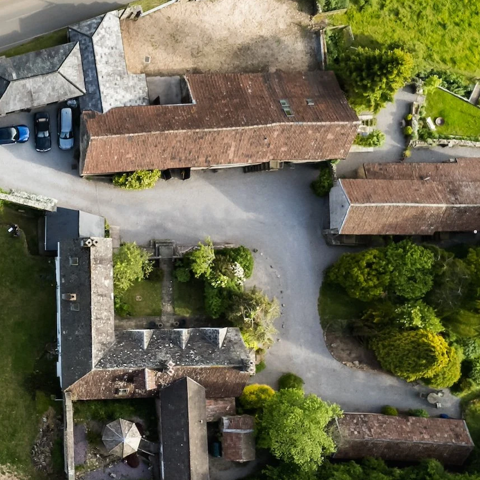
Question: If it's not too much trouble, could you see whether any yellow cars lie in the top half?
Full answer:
No, I can find no yellow car in the top half.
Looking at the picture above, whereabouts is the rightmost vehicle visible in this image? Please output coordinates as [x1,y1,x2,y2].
[56,107,77,150]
